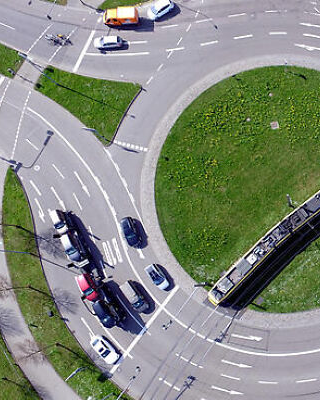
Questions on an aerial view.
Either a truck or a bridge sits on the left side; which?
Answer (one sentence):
You can see a truck on the left side.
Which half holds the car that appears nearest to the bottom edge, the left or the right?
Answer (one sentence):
The car that appears nearest to the bottom edge appears in the left half of the scene.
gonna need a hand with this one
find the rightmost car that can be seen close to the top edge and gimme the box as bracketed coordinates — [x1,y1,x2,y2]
[149,0,181,21]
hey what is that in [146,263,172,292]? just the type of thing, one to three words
car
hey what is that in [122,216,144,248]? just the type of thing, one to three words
car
